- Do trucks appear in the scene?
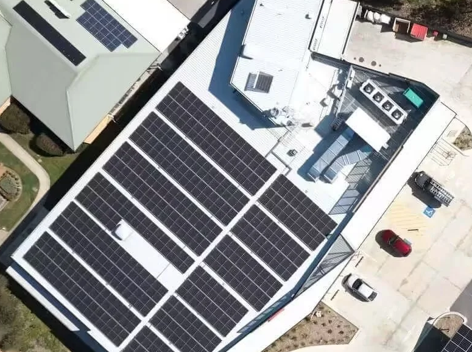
Yes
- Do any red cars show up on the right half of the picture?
Yes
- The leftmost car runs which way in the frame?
on a diagonal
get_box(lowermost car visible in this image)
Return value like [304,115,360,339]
[342,272,381,305]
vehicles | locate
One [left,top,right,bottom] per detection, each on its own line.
[411,171,457,210]
[377,229,415,259]
[342,272,381,305]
